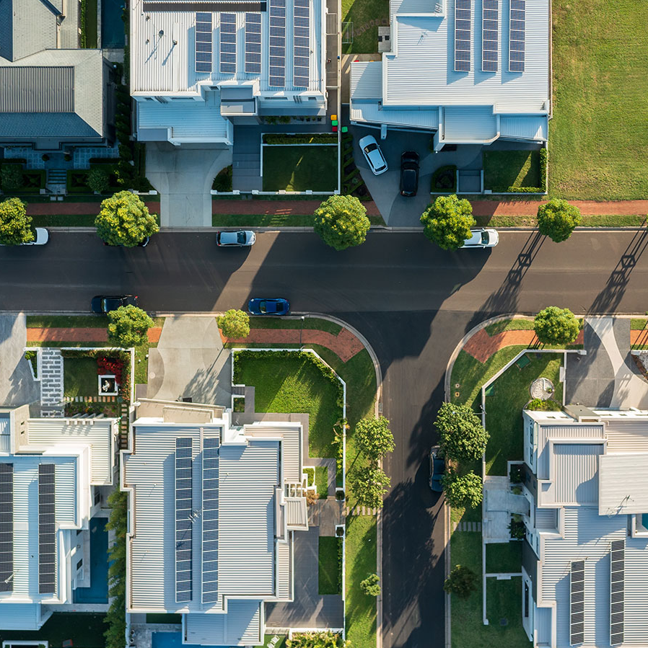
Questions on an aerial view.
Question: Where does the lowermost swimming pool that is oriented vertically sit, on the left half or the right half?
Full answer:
The lowermost swimming pool that is oriented vertically appears in the left half of the scene.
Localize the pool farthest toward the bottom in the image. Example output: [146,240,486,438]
[150,630,246,648]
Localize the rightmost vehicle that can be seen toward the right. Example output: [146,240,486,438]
[455,229,498,248]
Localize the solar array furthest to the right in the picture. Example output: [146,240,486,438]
[611,541,624,648]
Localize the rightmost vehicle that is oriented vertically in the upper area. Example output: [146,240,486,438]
[399,150,419,197]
